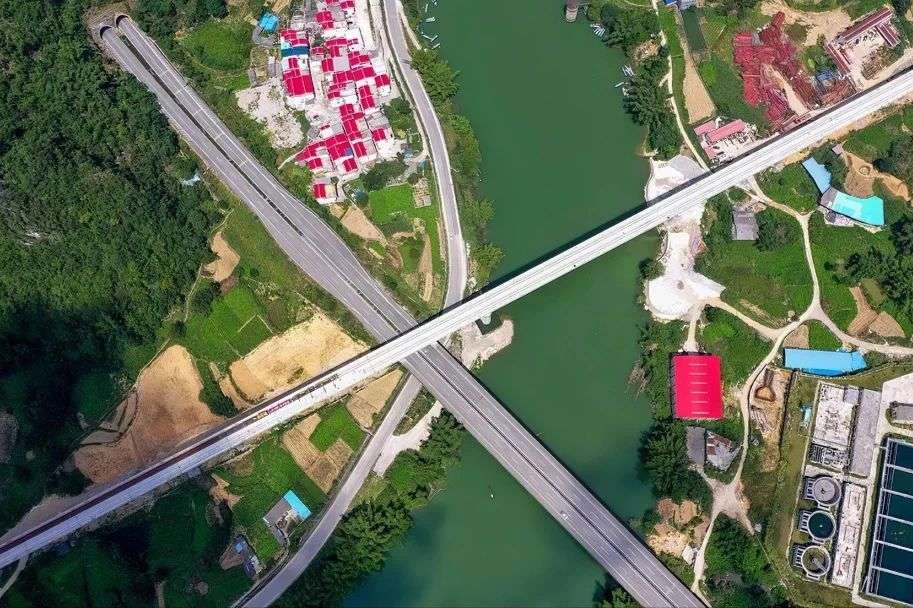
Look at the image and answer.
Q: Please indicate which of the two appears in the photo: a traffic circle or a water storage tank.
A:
water storage tank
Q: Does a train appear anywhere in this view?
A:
Yes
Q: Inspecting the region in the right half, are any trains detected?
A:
No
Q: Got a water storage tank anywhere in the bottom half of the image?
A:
Yes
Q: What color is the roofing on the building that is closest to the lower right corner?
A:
white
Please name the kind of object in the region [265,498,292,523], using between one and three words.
house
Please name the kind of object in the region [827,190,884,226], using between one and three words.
shed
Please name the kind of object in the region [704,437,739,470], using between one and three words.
shed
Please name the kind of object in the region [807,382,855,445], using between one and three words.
building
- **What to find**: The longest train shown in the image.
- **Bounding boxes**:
[252,373,338,420]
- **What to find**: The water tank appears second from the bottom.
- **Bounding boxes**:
[794,510,836,545]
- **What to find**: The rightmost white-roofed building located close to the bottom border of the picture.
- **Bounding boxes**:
[827,481,867,588]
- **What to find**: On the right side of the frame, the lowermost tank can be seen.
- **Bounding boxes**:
[788,545,831,580]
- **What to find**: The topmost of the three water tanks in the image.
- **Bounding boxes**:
[802,475,842,508]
